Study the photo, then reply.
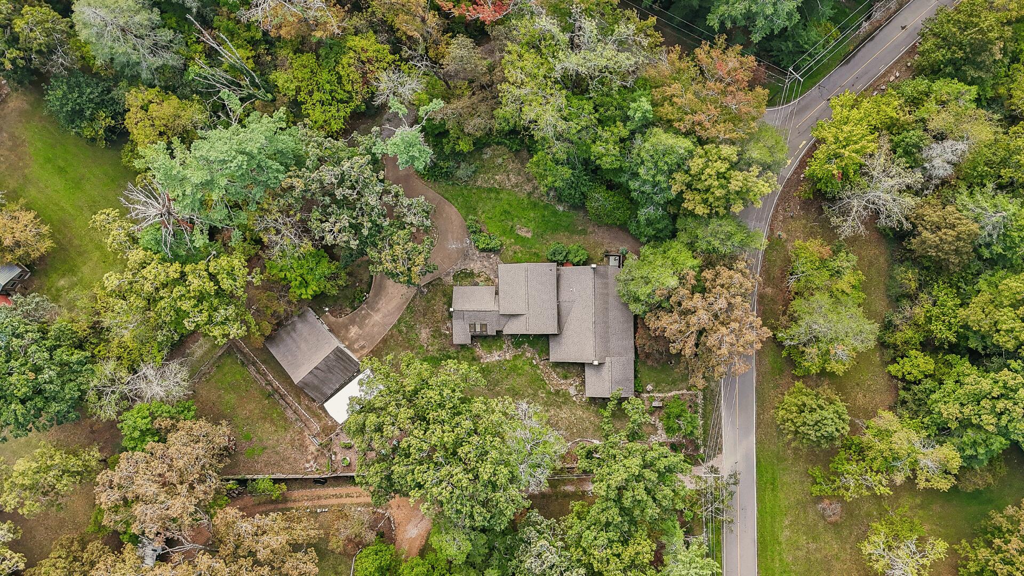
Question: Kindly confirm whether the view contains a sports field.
No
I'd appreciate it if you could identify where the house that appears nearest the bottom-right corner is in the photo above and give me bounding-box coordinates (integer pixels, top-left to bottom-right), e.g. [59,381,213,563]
[449,263,635,398]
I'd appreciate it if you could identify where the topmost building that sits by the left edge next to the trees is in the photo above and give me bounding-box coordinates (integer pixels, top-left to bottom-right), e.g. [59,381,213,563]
[0,259,36,290]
